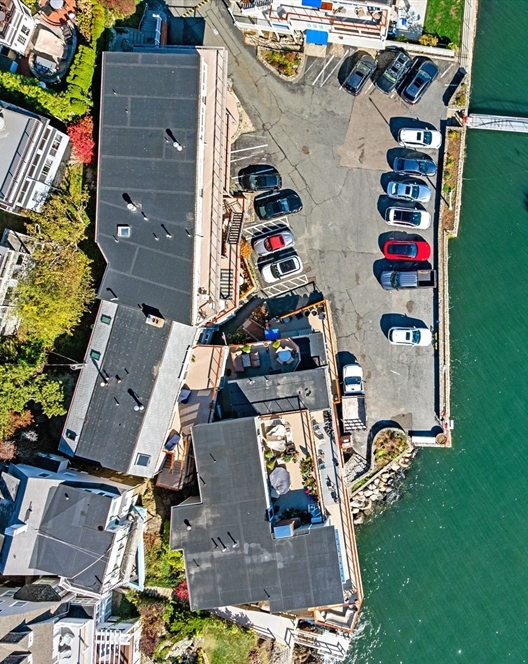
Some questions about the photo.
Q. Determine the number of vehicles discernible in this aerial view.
15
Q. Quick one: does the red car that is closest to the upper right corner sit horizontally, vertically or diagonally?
horizontally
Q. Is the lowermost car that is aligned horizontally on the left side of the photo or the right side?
right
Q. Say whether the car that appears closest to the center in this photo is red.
No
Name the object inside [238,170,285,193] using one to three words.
car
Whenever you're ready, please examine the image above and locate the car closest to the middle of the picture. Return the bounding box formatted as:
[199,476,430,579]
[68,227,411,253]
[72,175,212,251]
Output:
[260,256,304,282]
